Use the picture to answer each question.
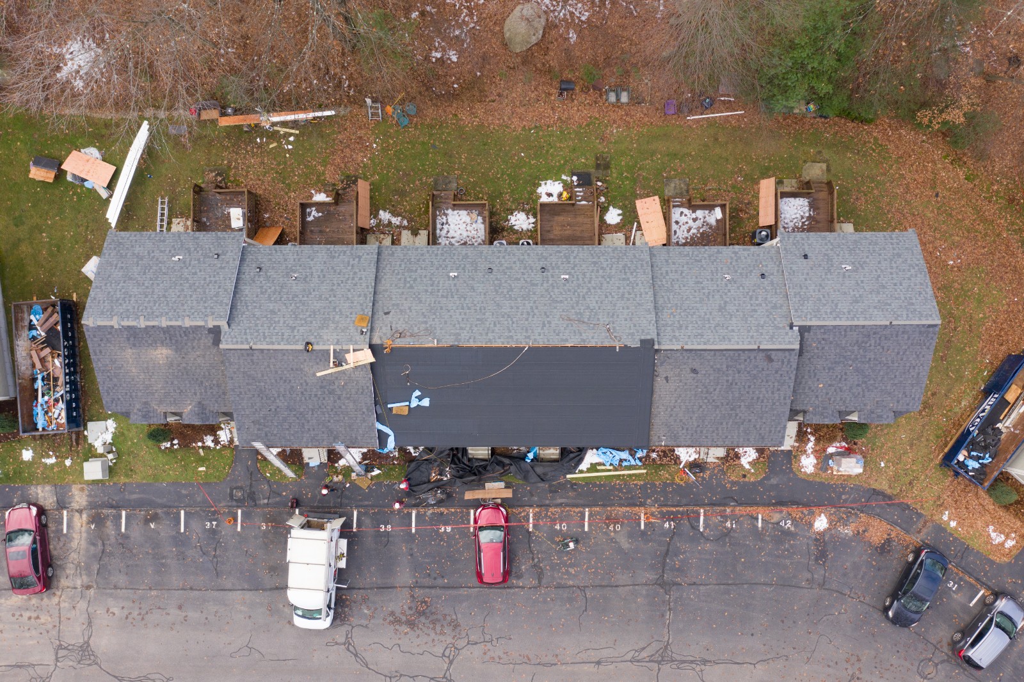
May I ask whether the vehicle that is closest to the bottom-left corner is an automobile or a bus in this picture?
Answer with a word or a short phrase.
automobile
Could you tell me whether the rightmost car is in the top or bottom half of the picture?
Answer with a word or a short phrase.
bottom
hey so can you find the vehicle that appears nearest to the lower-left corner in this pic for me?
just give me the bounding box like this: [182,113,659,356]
[2,503,53,595]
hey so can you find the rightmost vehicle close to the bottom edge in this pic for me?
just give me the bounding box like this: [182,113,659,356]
[946,588,1023,674]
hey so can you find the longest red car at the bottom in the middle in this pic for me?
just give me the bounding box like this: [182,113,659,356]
[471,500,513,584]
